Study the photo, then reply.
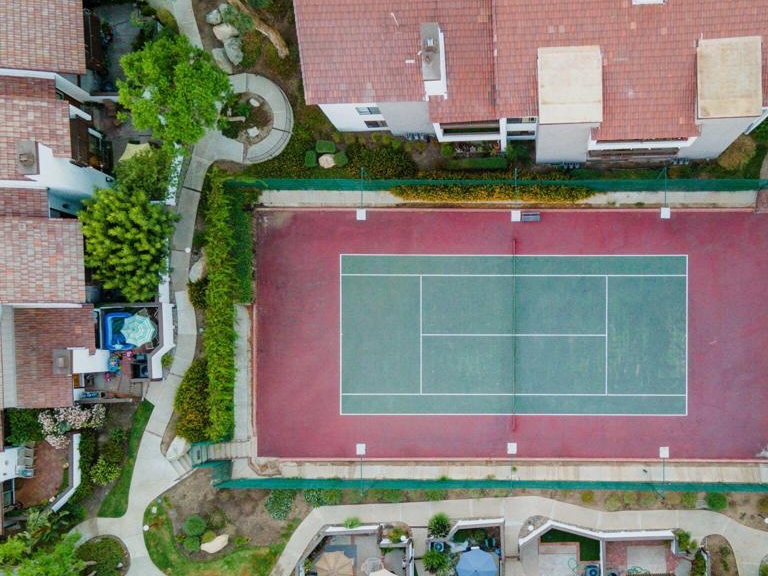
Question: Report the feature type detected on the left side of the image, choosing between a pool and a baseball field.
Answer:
pool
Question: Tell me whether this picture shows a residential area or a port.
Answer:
residential area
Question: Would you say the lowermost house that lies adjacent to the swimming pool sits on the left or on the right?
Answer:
left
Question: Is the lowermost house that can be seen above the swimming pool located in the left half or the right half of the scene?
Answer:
left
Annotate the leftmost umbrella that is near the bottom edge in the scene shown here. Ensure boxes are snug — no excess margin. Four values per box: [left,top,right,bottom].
[316,550,355,576]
